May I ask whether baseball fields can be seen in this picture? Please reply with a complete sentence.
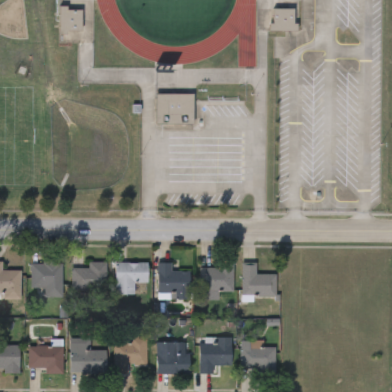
Yes, a baseball field appears in the view.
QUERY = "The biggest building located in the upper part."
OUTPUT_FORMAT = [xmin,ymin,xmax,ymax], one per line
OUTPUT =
[156,94,196,129]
